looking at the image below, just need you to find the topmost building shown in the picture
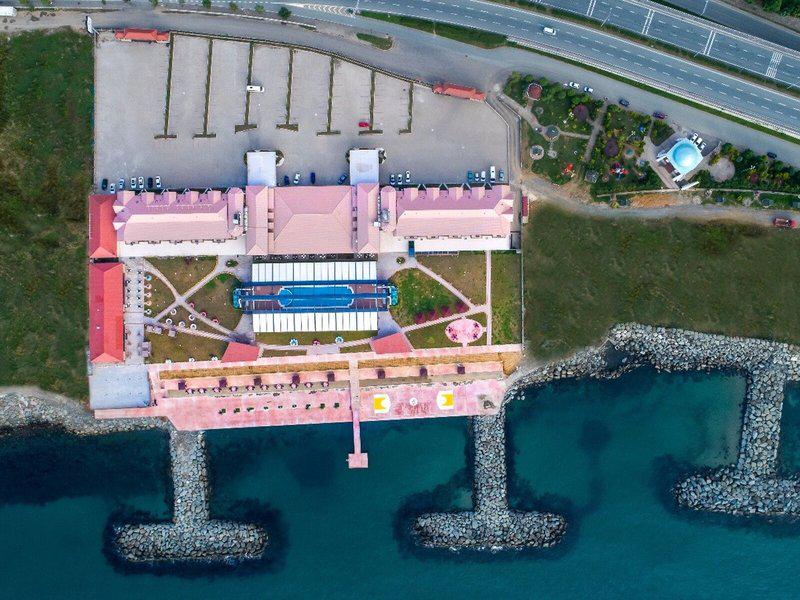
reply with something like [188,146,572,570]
[111,23,169,44]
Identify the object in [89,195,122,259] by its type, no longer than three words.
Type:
shed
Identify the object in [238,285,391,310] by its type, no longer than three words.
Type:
swimming pool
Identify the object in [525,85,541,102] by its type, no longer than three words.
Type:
gazebo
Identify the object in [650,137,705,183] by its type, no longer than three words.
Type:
building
